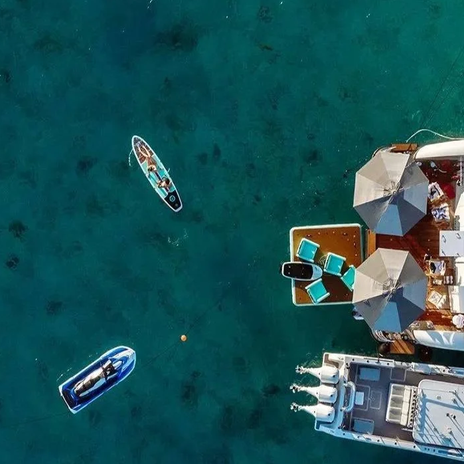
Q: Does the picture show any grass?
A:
No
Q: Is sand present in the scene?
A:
No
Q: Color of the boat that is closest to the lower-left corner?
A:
blue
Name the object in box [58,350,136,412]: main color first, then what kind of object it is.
blue boat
